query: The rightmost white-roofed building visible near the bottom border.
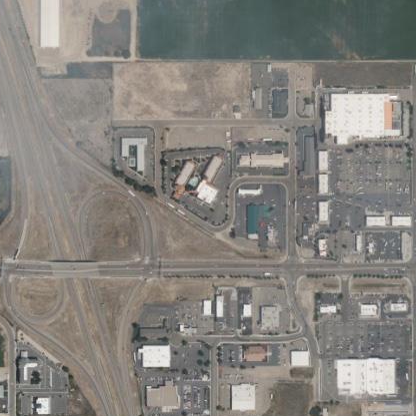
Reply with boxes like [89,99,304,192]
[367,358,396,396]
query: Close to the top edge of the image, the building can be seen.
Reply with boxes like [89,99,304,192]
[41,0,60,48]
